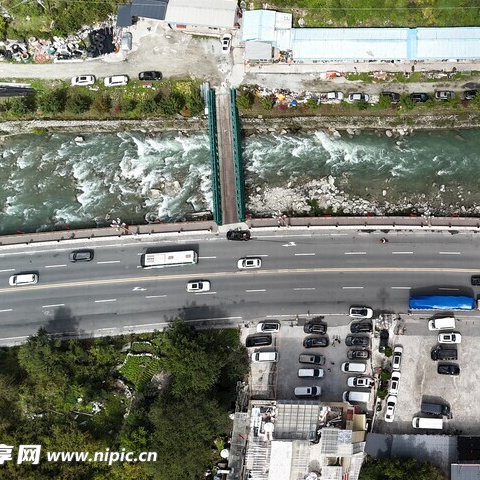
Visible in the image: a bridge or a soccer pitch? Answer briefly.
bridge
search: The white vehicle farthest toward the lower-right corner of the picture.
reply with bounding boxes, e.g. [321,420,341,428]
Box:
[413,417,443,430]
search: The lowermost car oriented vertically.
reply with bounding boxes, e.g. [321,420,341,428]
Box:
[384,395,398,423]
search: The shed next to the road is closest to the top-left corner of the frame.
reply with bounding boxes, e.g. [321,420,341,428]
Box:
[117,3,135,31]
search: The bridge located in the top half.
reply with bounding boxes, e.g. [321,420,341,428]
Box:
[208,77,250,228]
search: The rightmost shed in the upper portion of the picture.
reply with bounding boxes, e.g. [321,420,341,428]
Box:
[292,27,480,66]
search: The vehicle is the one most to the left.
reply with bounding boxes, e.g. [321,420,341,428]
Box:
[10,272,38,285]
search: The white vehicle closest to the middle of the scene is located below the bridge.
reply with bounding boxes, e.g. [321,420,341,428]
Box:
[237,257,262,269]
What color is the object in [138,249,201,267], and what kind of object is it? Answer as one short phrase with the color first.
white vehicle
